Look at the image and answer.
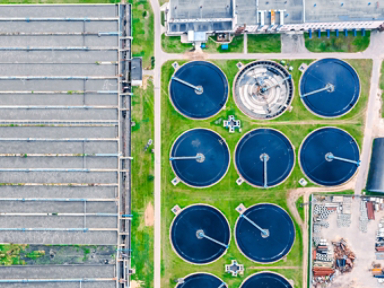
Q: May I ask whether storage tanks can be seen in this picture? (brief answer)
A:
Yes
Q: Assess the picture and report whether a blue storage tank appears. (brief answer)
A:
Yes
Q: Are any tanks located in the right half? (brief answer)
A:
Yes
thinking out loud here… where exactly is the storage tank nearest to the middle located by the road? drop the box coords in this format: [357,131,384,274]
[169,128,230,188]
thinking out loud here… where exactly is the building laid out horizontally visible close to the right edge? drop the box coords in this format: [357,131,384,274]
[293,0,384,38]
